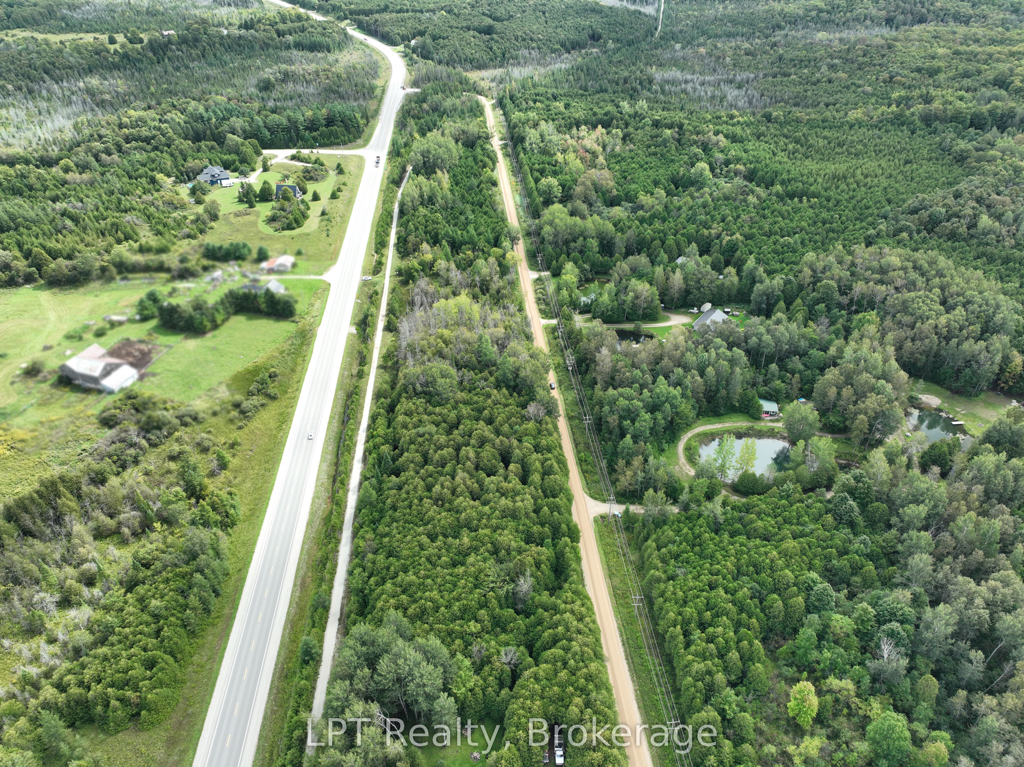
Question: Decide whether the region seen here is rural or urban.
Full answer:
This place is rural.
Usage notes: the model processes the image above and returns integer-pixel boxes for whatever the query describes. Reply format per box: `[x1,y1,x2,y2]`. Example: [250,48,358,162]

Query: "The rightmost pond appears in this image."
[907,407,973,455]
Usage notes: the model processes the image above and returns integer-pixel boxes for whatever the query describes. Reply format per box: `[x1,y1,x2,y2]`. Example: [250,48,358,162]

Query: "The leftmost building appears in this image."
[65,331,142,392]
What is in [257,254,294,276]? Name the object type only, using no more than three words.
shed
